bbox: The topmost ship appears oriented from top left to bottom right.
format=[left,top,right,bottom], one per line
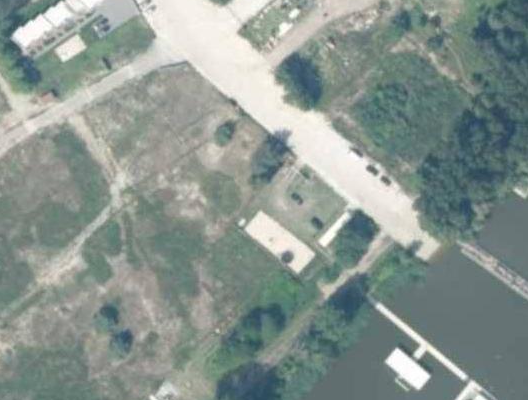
[460,238,528,301]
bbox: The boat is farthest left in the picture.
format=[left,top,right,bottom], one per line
[385,348,431,390]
